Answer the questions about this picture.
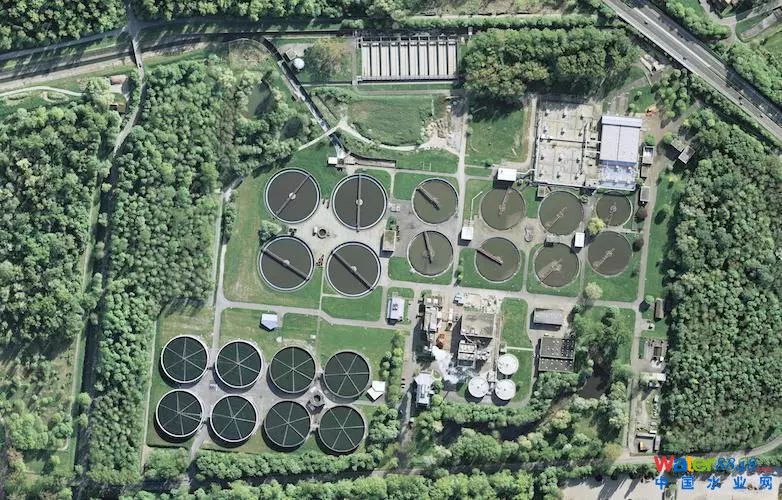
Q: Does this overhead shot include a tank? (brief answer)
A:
Yes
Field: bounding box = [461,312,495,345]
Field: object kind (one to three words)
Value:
building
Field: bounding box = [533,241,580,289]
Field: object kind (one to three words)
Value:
storage tank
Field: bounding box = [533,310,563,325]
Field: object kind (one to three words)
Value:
shed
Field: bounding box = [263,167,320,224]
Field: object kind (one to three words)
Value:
storage tank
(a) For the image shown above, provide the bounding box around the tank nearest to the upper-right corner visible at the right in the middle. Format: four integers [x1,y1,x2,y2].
[595,190,633,227]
